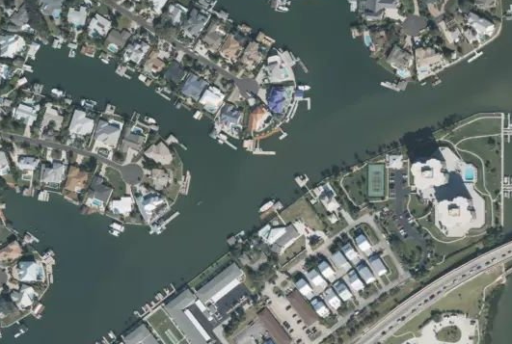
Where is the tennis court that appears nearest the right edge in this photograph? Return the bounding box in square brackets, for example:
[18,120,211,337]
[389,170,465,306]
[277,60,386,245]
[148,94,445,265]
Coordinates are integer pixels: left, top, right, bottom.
[368,164,384,196]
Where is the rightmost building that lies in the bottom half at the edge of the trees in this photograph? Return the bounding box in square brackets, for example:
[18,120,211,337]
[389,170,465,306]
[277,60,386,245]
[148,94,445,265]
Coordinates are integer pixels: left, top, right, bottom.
[433,196,474,239]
